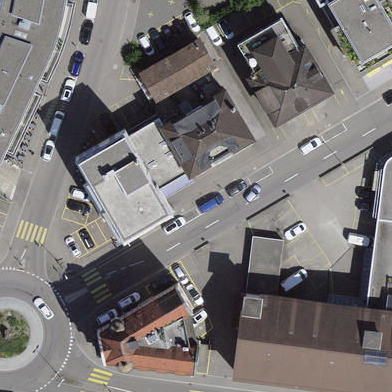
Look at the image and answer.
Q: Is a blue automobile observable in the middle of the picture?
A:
Yes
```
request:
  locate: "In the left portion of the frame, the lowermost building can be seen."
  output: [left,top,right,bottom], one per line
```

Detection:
[96,280,200,376]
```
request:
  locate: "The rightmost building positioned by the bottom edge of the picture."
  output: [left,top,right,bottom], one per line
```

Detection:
[232,294,392,392]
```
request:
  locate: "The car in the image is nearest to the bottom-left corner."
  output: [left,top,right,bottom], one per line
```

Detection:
[33,296,55,320]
